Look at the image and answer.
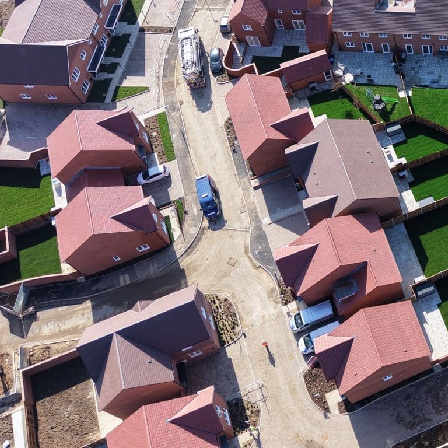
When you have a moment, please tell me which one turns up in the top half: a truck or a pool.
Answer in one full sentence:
There is a truck in the top half.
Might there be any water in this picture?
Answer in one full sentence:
No, the picture contains no water.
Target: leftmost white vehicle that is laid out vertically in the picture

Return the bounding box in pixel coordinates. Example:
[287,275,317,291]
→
[177,28,209,86]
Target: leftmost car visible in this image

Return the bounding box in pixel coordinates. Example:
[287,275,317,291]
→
[135,163,173,185]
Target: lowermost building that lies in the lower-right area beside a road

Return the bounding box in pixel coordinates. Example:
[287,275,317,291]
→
[314,300,433,402]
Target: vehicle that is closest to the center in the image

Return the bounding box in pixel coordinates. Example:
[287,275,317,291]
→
[192,172,222,220]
